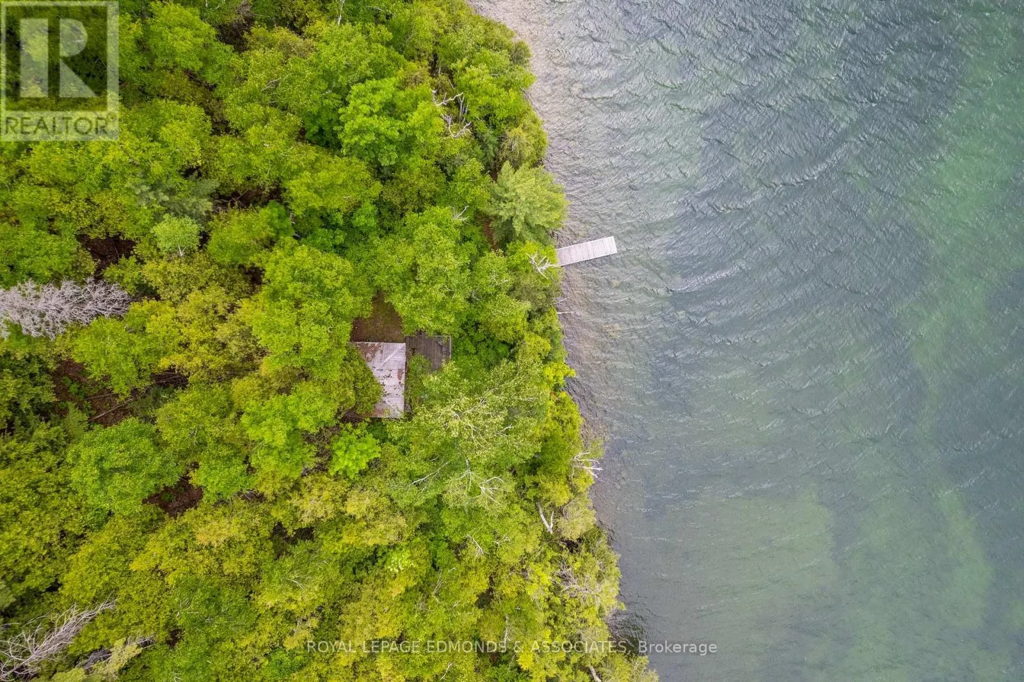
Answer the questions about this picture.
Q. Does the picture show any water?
Yes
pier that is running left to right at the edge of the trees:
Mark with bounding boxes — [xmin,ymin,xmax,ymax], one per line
[548,236,618,267]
